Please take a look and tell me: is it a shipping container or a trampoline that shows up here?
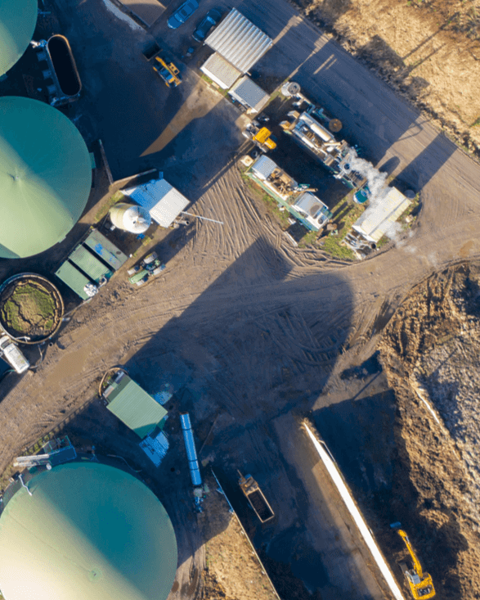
shipping container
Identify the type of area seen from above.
industrial area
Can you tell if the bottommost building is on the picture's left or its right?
left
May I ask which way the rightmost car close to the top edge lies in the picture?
on a diagonal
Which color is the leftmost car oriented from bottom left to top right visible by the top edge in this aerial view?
blue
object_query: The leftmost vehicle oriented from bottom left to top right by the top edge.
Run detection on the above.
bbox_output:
[167,0,198,29]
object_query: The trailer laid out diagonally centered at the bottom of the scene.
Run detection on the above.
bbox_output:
[242,474,279,527]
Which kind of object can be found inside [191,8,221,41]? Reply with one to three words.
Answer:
car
